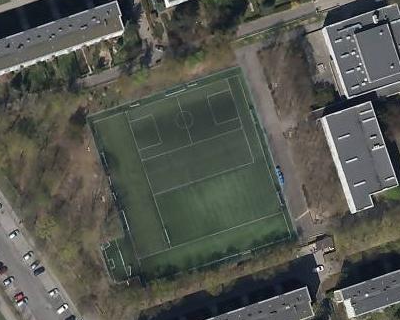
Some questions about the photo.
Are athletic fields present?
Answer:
Yes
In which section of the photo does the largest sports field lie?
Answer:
center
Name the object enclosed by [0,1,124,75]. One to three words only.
building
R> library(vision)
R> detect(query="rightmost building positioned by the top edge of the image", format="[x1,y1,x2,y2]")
[322,4,400,98]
